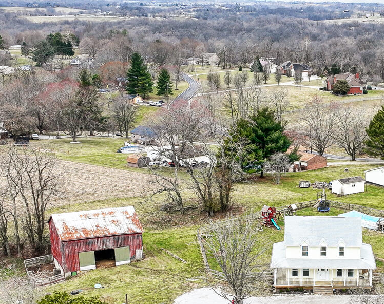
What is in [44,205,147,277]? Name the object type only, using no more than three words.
barn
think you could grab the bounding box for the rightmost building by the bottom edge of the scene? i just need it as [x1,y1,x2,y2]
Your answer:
[271,216,376,295]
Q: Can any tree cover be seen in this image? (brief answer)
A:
Yes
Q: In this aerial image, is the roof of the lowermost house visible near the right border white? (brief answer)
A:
Yes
